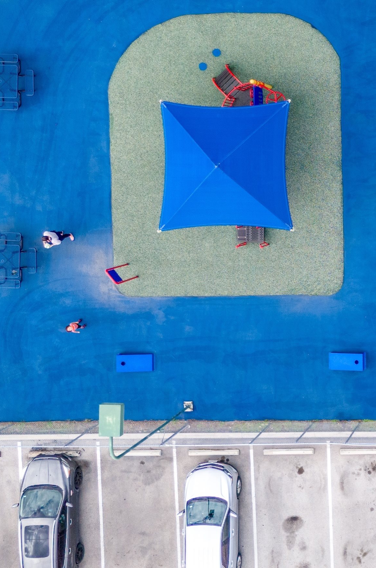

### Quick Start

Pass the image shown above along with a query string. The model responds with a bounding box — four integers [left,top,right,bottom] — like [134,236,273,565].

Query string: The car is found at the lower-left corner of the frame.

[14,452,89,568]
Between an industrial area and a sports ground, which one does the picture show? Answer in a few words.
sports ground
